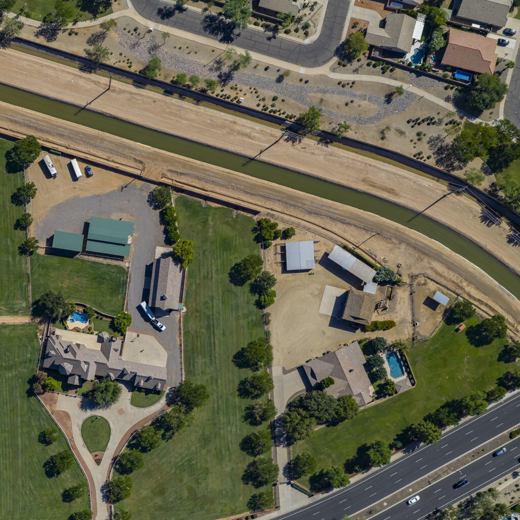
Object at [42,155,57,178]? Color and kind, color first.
white camper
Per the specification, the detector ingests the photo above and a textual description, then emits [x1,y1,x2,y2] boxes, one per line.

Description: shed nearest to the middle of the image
[284,241,314,270]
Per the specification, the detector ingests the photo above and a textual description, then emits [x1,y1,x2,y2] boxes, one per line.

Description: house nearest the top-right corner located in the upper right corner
[453,0,513,28]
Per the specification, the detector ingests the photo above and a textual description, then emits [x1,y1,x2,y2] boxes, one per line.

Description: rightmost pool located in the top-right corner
[453,69,473,83]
